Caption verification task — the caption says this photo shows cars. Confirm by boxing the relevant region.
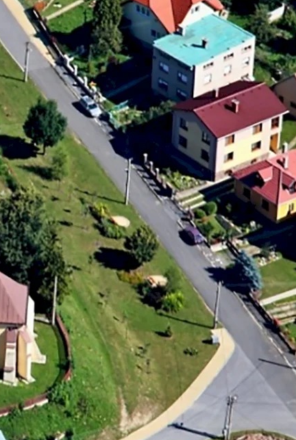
[80,94,100,113]
[182,223,205,243]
